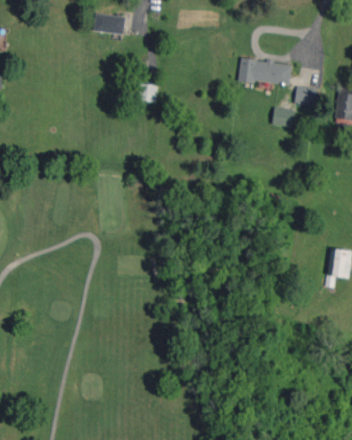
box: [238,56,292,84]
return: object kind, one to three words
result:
house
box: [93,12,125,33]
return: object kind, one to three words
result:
house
